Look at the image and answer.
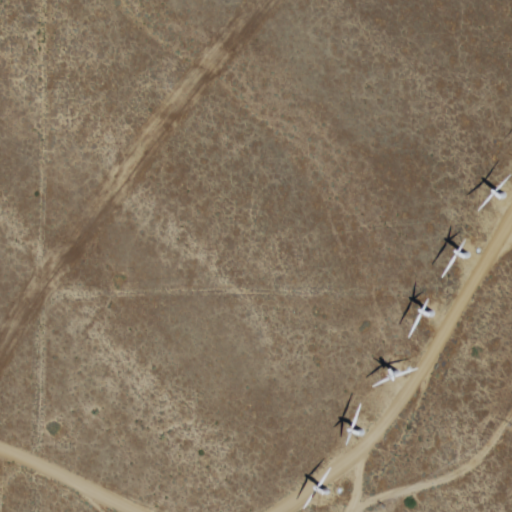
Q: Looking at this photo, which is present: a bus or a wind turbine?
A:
wind turbine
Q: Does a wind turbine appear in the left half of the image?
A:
No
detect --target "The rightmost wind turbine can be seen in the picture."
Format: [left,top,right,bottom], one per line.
[476,172,510,208]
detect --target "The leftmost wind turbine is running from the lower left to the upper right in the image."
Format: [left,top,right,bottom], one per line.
[302,468,332,509]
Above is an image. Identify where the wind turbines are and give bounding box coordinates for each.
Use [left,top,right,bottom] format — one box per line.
[442,238,473,276]
[344,404,366,446]
[302,468,332,509]
[408,296,437,336]
[476,172,510,208]
[374,367,418,388]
